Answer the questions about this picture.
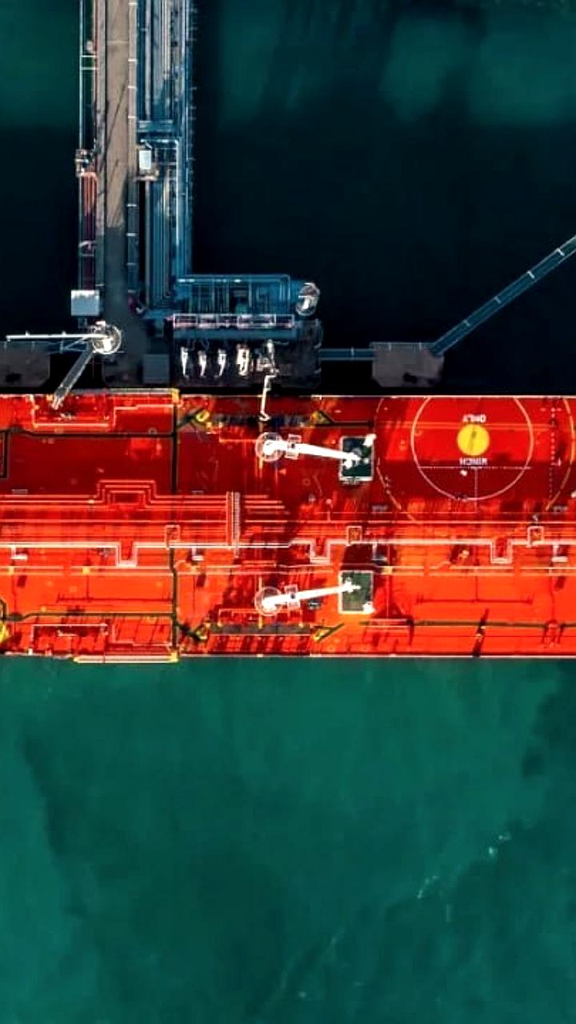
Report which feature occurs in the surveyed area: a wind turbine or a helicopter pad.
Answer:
helicopter pad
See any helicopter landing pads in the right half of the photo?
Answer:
Yes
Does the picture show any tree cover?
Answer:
No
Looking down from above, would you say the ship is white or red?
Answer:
red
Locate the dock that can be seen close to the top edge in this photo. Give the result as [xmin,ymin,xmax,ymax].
[96,0,139,314]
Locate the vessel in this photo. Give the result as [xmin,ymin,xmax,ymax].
[0,386,576,664]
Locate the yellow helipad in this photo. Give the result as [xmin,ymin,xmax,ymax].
[373,399,574,524]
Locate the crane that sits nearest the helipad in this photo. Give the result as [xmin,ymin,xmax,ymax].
[258,433,364,467]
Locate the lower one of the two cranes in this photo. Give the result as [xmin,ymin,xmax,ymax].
[258,583,359,613]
